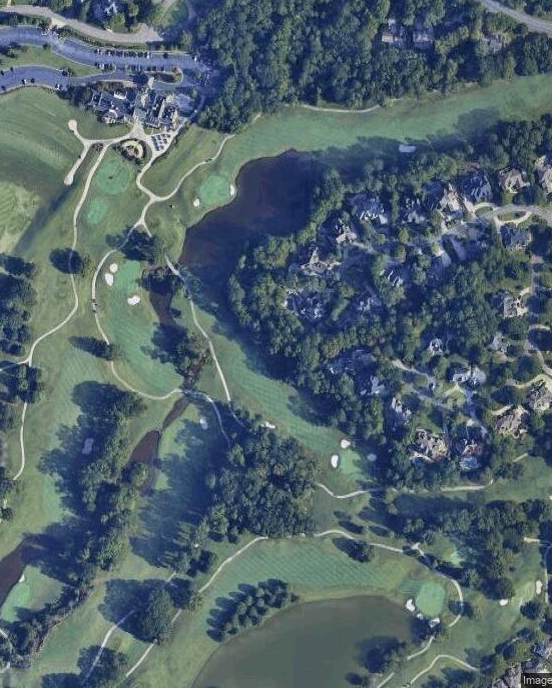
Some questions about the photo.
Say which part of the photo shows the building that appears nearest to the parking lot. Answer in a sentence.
The building that appears nearest to the parking lot appears toward the top left of the photo.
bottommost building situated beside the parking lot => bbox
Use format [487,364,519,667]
[88,80,181,133]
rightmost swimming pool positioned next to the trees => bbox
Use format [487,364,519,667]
[464,456,483,471]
